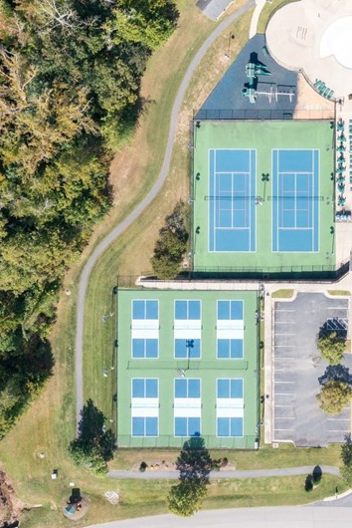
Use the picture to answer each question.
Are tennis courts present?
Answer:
Yes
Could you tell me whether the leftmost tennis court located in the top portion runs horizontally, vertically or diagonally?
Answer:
vertically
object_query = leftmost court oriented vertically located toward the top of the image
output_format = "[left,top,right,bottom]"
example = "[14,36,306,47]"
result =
[194,121,263,275]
